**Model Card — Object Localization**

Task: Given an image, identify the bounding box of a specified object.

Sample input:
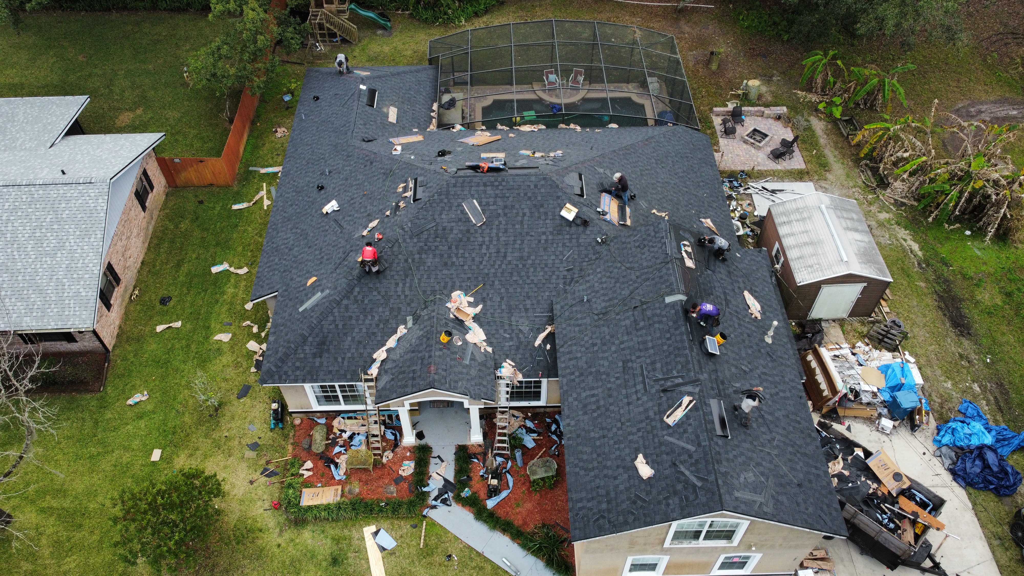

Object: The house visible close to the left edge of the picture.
[0,93,166,396]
